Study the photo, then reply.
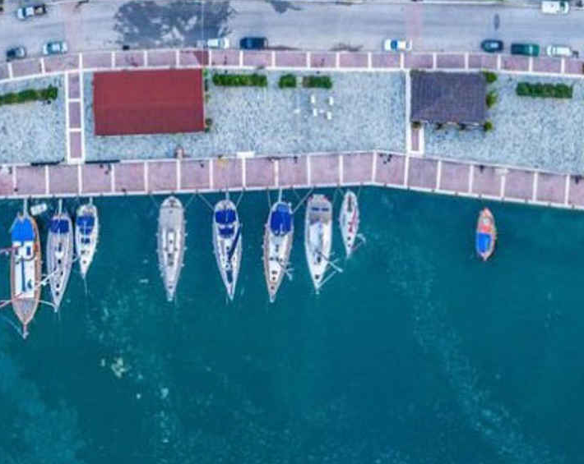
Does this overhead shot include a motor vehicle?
Yes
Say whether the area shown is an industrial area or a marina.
marina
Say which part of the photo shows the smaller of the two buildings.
top right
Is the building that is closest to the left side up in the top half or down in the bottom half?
top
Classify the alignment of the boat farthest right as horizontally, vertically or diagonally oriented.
vertically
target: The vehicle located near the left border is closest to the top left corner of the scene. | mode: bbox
[17,2,49,20]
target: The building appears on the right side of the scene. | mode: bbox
[408,70,488,123]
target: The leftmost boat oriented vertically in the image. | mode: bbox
[0,197,42,342]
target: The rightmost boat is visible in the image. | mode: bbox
[474,207,497,261]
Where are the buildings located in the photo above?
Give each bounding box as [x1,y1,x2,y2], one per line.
[92,69,207,135]
[408,70,488,123]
